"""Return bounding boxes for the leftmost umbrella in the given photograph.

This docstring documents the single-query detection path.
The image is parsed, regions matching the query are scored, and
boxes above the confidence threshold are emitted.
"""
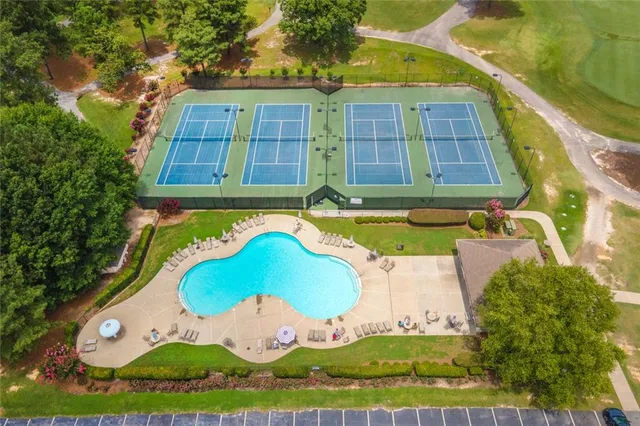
[99,319,122,340]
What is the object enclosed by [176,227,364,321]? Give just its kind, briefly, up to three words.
swimming pool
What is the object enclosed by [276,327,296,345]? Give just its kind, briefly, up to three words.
umbrella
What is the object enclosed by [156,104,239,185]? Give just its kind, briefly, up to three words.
tennis court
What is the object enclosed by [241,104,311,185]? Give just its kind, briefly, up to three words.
tennis court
